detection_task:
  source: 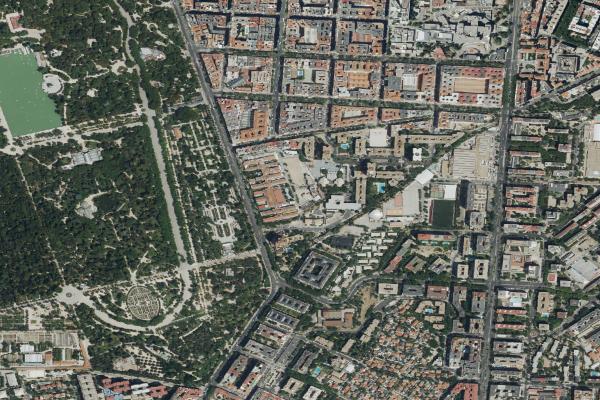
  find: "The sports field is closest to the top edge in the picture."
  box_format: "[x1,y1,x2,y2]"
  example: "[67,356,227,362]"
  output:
[285,154,307,200]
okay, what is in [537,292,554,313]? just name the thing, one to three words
building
